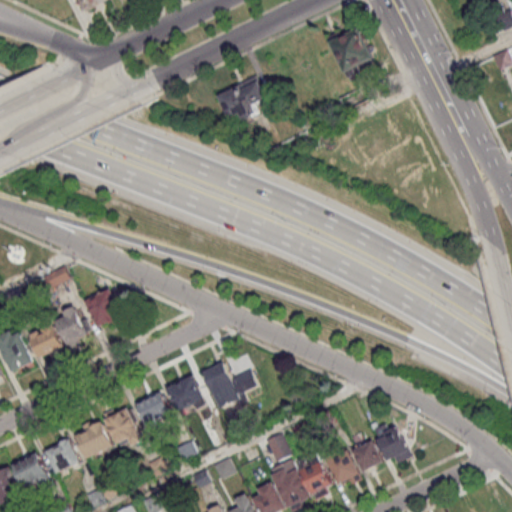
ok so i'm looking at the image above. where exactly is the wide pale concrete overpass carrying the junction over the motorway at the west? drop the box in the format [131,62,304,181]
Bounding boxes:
[0,62,164,178]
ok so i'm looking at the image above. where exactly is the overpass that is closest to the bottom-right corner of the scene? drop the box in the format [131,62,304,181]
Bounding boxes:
[476,238,512,415]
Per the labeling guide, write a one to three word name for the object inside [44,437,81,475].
house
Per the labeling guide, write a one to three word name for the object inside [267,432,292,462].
building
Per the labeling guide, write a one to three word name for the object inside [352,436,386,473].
house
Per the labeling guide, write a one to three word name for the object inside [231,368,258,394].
building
